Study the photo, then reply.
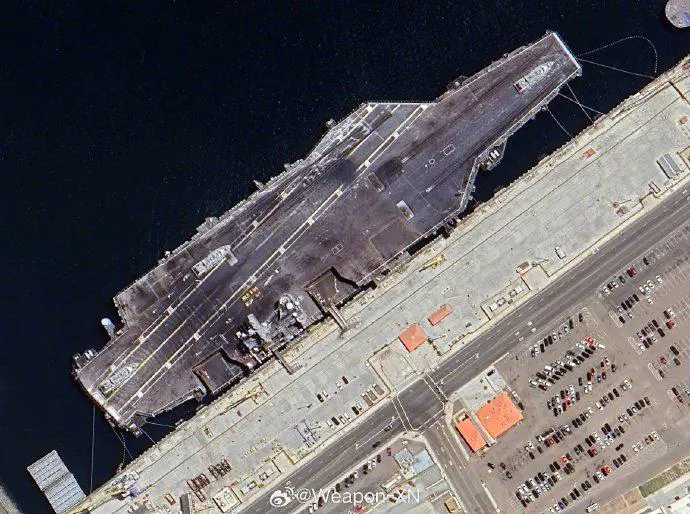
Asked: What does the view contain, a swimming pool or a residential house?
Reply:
residential house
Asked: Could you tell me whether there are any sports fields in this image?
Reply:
No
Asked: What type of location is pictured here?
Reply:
port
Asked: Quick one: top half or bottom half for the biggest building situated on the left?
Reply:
bottom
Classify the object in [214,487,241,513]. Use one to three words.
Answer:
building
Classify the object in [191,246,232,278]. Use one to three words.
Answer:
boat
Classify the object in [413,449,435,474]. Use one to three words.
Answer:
building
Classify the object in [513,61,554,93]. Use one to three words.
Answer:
boat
